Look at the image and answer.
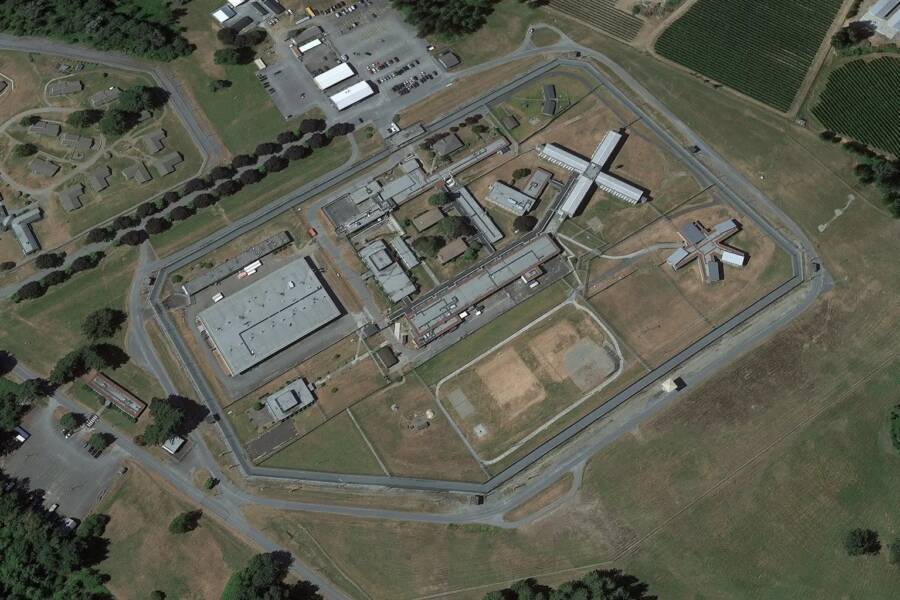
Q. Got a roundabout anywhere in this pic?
No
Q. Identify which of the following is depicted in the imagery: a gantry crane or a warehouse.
warehouse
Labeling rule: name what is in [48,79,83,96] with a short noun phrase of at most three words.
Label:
house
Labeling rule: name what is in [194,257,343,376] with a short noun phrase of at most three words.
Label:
warehouse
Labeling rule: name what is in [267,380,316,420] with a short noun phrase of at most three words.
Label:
building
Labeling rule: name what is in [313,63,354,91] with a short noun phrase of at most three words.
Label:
shed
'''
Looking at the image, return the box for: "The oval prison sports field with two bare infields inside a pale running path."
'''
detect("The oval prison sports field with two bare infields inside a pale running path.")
[435,300,623,463]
